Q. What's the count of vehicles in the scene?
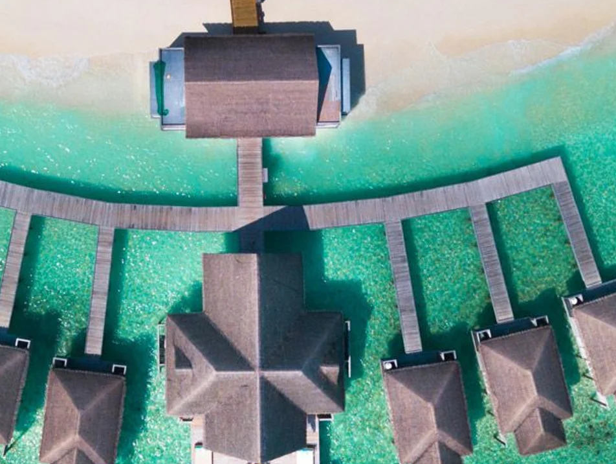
none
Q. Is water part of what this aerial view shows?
Yes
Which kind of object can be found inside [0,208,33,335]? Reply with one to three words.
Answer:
pier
